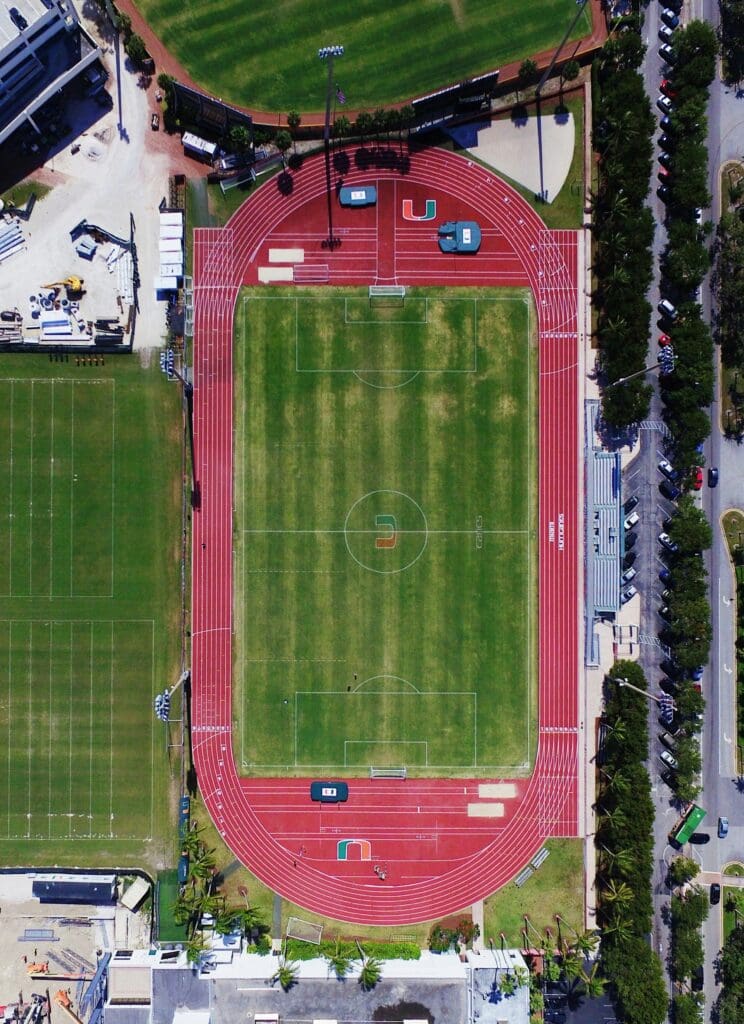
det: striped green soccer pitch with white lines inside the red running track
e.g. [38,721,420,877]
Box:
[233,286,539,780]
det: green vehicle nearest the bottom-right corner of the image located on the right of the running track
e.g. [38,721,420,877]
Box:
[668,797,707,846]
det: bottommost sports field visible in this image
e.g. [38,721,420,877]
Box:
[0,608,182,868]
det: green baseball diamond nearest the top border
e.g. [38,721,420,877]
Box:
[124,0,606,124]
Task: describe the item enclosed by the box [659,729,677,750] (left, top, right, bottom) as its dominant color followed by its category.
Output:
gray car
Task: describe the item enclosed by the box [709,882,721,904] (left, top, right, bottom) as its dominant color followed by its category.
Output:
black vehicle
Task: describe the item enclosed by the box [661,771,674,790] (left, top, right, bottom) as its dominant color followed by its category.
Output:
black vehicle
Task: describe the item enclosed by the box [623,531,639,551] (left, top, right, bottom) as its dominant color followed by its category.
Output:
black car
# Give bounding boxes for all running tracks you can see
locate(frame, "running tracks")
[192,140,579,926]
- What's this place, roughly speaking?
sports ground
